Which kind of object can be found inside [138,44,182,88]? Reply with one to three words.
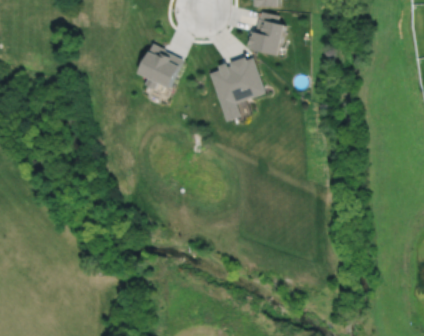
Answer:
house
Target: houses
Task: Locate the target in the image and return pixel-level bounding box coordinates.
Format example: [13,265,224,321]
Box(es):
[138,44,182,88]
[212,56,266,122]
[255,0,281,8]
[246,10,288,57]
